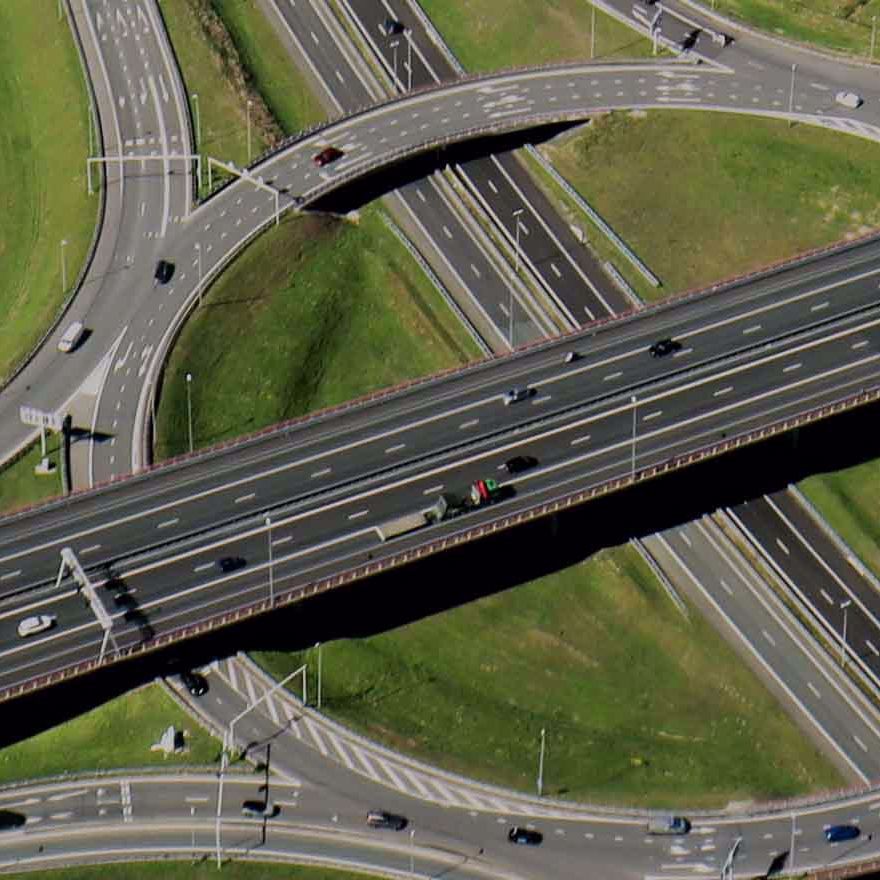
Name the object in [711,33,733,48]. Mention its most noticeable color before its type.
white car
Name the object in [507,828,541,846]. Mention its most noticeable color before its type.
black car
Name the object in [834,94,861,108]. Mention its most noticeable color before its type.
white car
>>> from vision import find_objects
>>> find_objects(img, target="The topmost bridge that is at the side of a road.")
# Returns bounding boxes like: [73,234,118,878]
[195,55,672,217]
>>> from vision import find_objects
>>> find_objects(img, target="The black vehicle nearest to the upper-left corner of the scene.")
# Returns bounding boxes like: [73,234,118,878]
[156,263,173,284]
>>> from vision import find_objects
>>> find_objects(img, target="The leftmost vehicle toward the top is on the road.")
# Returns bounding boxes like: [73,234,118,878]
[58,320,82,350]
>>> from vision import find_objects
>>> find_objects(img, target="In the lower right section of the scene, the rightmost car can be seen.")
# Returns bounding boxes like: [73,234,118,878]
[822,825,858,843]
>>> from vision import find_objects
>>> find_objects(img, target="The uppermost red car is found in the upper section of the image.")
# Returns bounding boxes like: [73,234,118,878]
[312,150,339,166]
